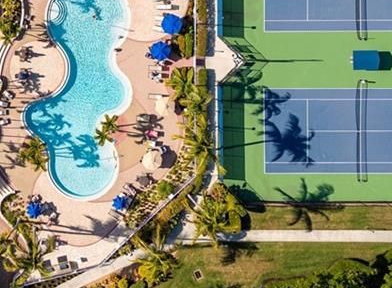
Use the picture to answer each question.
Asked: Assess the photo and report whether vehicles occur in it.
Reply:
No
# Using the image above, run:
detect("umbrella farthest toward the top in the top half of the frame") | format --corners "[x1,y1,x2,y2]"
[160,14,181,34]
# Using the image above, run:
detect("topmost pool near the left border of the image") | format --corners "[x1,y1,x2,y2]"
[19,0,132,203]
